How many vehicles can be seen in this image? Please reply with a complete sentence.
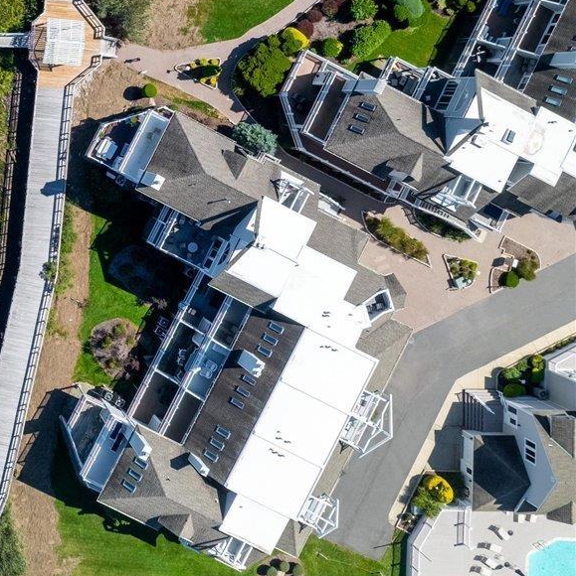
The photo contains no vehicles.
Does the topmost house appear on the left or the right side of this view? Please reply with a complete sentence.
It is on the right.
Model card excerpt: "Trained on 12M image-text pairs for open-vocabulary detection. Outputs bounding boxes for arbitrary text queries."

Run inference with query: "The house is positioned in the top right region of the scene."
[268,0,576,248]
